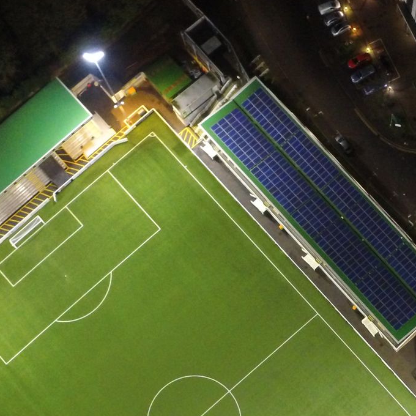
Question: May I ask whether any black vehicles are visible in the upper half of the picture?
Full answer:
Yes, a black vehicle can be seen in the upper half of the picture.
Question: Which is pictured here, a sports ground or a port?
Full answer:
What you see here is a sports ground.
